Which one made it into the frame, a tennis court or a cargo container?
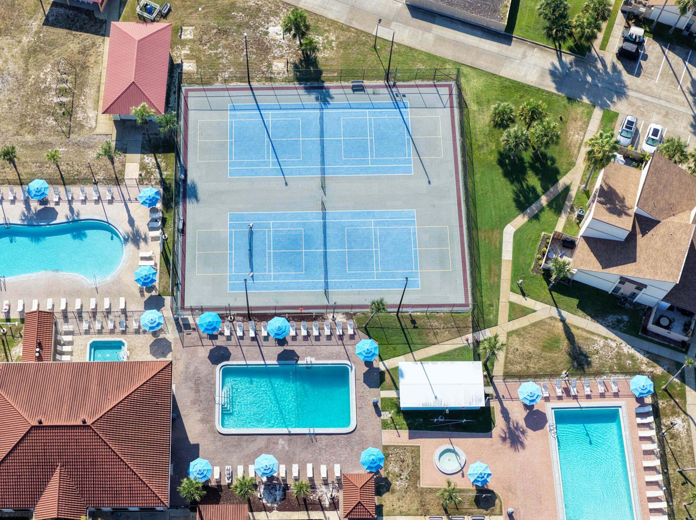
tennis court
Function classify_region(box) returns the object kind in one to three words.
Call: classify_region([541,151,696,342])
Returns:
house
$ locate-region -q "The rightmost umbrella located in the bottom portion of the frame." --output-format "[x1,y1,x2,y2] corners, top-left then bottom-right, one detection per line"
[630,375,653,397]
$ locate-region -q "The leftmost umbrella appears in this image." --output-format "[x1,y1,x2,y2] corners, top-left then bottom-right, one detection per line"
[28,180,50,200]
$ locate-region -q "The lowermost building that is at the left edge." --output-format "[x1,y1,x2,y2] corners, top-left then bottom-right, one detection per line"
[0,359,173,520]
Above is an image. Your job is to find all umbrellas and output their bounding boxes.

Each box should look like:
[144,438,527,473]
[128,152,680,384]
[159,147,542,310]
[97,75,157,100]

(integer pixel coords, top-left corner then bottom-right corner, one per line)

[137,188,158,207]
[141,312,164,332]
[518,384,541,406]
[630,375,653,397]
[256,456,278,479]
[267,317,288,338]
[28,180,50,200]
[360,448,384,470]
[466,464,490,488]
[356,344,378,366]
[135,265,158,285]
[189,460,213,481]
[197,313,220,334]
